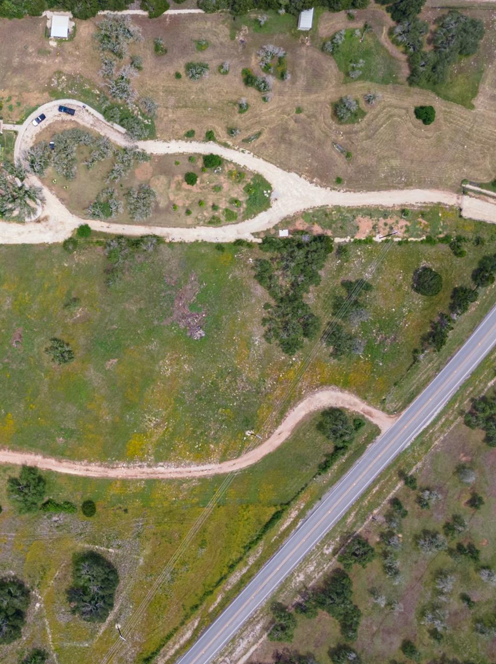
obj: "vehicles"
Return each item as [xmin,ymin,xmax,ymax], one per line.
[58,105,76,115]
[31,111,47,127]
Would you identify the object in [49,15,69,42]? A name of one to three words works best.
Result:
barn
